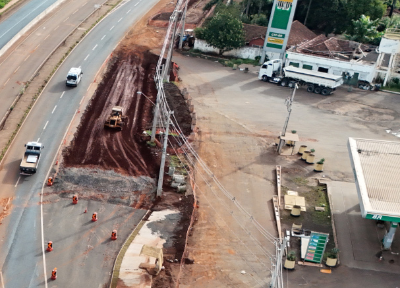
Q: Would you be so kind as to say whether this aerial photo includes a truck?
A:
Yes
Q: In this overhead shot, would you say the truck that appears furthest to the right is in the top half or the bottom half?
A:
top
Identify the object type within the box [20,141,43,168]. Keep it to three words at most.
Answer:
truck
